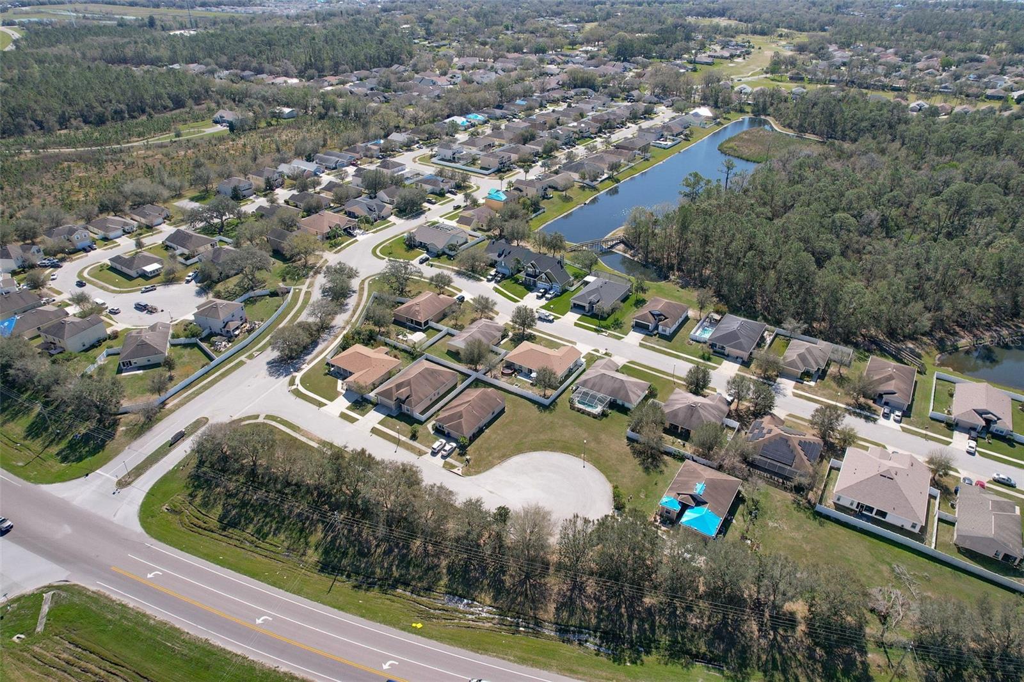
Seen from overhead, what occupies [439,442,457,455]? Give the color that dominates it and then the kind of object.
white vehicle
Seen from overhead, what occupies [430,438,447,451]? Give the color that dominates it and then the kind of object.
white vehicle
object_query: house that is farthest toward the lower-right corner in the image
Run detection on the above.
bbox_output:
[951,482,1024,569]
